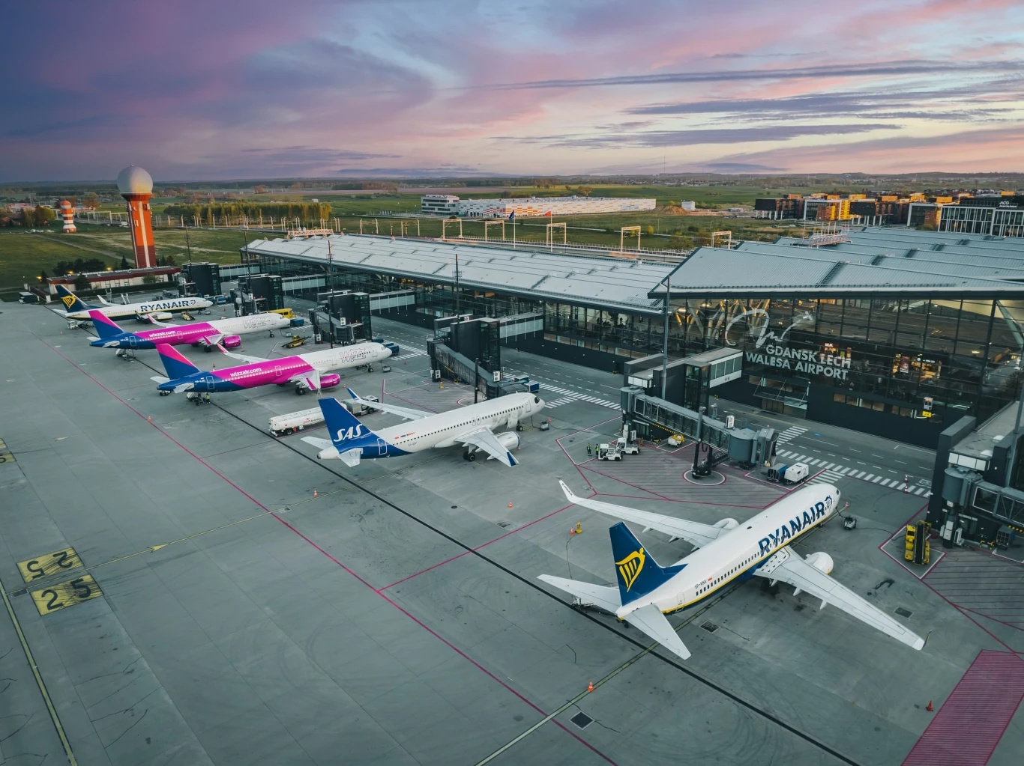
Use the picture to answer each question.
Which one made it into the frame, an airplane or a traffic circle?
airplane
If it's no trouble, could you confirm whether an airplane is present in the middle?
Yes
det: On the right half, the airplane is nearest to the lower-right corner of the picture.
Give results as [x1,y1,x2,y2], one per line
[532,482,938,664]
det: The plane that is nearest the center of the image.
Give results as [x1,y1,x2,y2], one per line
[301,393,544,470]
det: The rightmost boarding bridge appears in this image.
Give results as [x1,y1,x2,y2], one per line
[940,467,1024,543]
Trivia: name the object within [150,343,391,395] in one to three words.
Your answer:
airplane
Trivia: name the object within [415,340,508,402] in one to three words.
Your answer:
jet bridge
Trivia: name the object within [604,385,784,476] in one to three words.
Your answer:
jet bridge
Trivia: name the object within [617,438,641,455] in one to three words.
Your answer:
work vehicle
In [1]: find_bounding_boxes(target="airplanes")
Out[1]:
[85,309,291,353]
[150,343,391,395]
[49,283,214,325]
[532,482,938,664]
[301,393,544,470]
